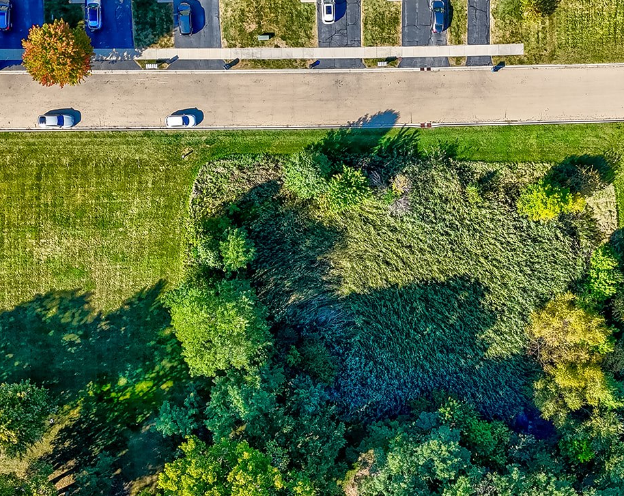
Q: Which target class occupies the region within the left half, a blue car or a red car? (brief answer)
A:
blue car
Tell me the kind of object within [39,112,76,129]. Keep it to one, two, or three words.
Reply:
car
